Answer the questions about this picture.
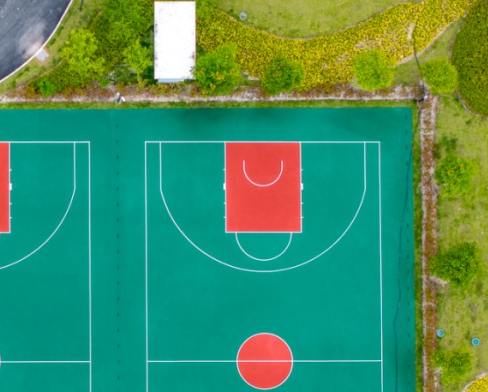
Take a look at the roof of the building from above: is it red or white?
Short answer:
white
